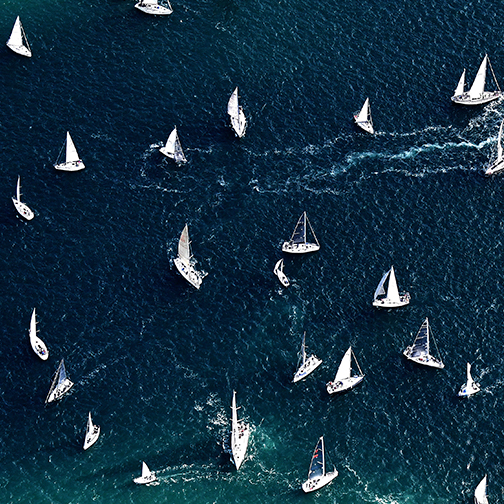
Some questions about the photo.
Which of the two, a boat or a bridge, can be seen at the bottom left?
boat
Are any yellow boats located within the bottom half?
No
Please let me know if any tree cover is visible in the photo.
No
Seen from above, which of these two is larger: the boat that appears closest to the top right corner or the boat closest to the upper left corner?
the boat that appears closest to the top right corner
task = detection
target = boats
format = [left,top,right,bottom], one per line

[158,126,187,163]
[320,349,364,393]
[294,331,322,384]
[476,476,488,504]
[282,212,319,253]
[31,311,49,360]
[84,413,102,450]
[172,226,198,290]
[47,360,76,403]
[485,122,504,177]
[354,99,373,136]
[56,133,91,172]
[374,268,410,307]
[274,258,292,288]
[5,18,31,58]
[302,438,338,492]
[134,462,156,483]
[231,392,248,473]
[403,318,443,369]
[13,176,35,219]
[134,0,173,15]
[230,87,246,140]
[460,365,481,397]
[452,57,501,105]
